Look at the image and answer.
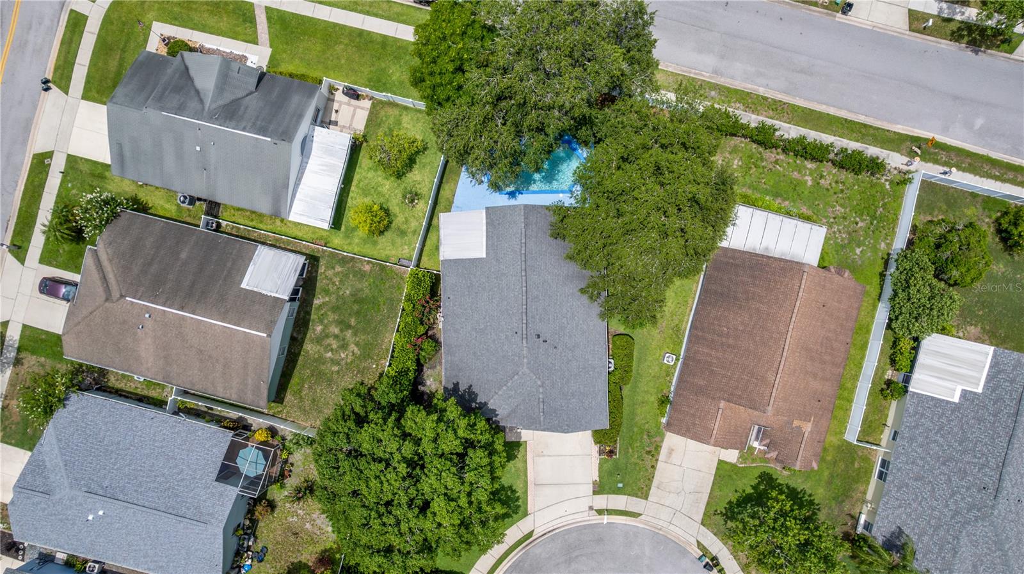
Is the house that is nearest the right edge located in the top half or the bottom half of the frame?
bottom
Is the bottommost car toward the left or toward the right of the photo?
left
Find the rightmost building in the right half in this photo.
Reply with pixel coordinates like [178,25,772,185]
[860,333,1024,574]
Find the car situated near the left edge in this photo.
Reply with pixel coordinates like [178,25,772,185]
[37,277,79,307]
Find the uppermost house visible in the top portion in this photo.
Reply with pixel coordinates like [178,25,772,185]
[106,50,355,228]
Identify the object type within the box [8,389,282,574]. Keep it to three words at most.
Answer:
house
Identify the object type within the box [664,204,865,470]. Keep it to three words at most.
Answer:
house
